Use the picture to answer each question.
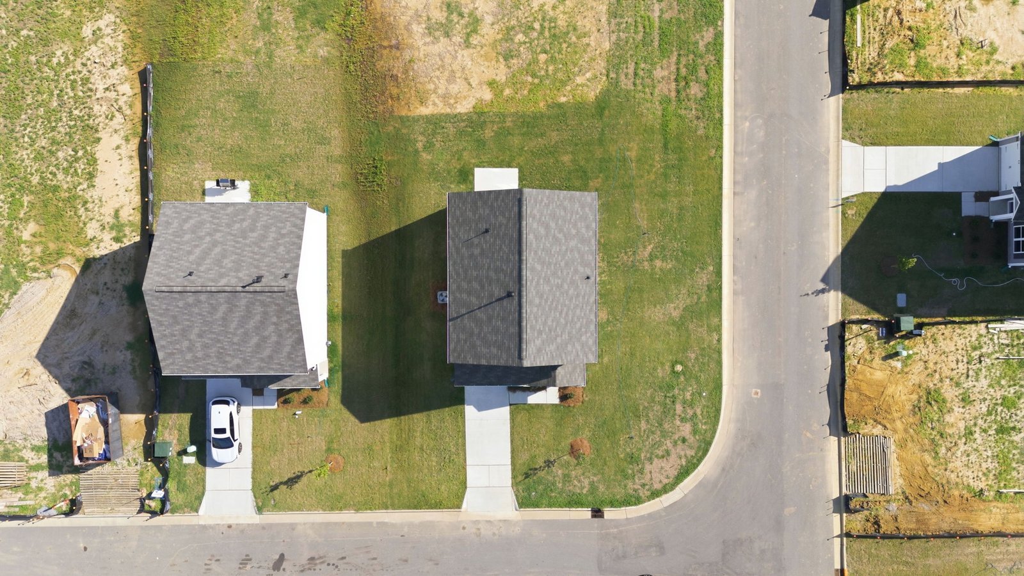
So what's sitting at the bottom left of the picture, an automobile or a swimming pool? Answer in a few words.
automobile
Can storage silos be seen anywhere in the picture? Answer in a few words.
No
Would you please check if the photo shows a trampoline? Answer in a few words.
No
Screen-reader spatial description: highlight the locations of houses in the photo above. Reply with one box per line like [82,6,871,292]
[988,130,1024,265]
[446,188,599,388]
[142,200,328,389]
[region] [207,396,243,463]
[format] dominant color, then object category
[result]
white car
